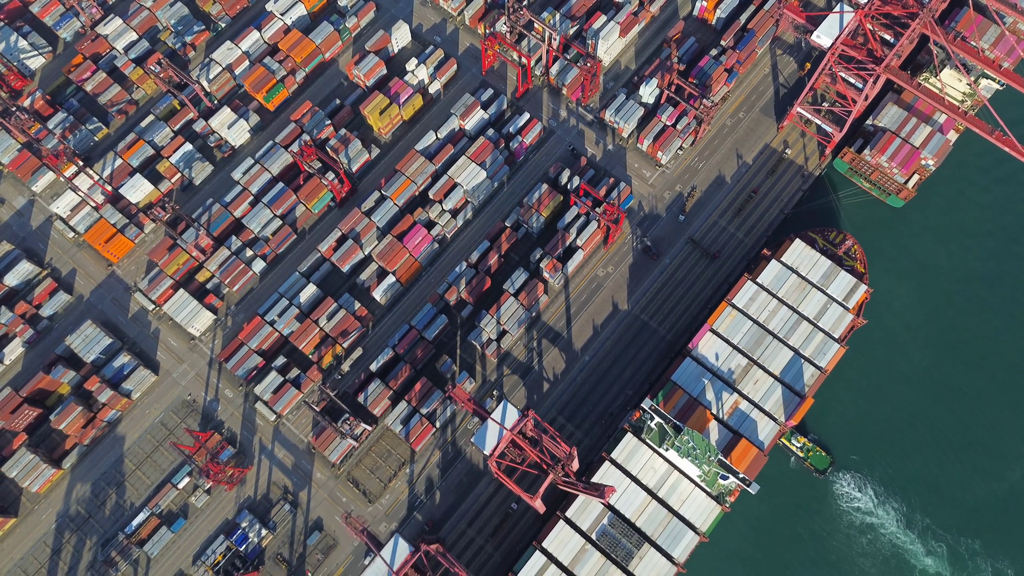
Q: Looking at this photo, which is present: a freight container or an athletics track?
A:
freight container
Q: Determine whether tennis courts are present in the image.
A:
No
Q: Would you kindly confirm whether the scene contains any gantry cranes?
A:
Yes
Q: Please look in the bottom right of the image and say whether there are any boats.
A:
Yes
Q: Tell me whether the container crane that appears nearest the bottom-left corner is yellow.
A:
No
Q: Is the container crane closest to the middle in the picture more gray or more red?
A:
red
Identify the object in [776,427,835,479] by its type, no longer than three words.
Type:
boat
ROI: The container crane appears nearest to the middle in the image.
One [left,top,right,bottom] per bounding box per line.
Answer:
[564,180,630,251]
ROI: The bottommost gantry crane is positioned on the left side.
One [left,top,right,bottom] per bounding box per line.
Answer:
[326,497,489,576]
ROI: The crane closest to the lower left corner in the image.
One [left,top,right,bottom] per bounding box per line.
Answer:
[166,425,251,496]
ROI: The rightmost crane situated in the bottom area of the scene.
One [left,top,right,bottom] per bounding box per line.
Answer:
[438,370,624,523]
